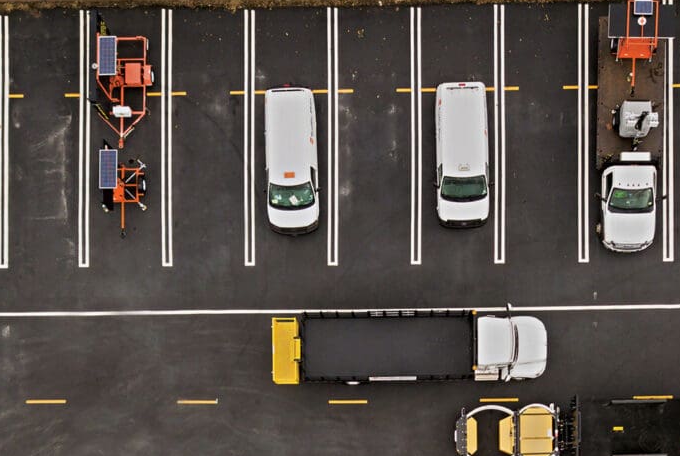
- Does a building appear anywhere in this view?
No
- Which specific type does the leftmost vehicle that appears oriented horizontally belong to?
truck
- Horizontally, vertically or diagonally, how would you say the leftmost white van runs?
vertically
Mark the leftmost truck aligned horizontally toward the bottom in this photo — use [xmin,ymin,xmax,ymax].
[273,303,547,384]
